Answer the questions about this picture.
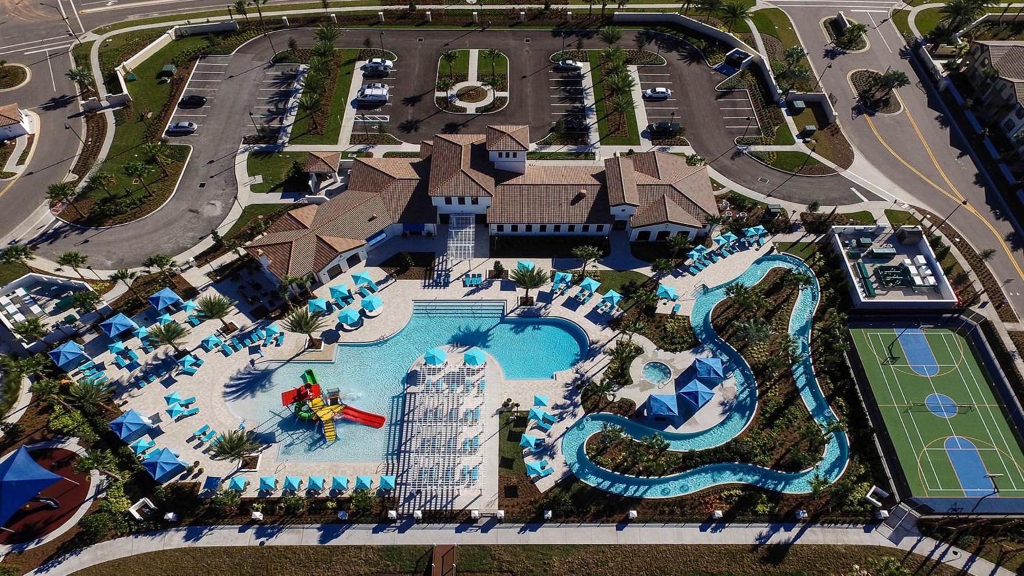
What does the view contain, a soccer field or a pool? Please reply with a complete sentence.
Looking from above, you can make out a pool.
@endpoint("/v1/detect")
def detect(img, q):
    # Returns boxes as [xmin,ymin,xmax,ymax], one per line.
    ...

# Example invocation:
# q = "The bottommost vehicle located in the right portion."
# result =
[648,120,680,134]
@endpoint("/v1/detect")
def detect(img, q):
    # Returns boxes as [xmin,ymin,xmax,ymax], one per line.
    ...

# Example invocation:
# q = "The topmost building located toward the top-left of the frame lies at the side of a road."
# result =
[0,103,28,136]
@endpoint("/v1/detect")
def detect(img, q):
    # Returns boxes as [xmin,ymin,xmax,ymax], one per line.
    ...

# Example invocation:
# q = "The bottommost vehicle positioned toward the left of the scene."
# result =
[167,121,199,133]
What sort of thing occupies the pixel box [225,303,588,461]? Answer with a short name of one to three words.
swimming pool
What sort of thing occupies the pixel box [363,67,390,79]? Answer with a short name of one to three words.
vehicle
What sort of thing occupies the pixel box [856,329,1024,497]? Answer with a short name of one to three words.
sports court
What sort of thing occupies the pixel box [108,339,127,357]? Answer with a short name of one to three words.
umbrella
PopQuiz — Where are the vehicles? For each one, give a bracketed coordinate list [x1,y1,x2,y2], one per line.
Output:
[167,121,199,133]
[644,87,672,99]
[358,86,388,101]
[178,96,209,108]
[557,59,583,71]
[366,57,393,69]
[363,67,390,79]
[648,120,680,134]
